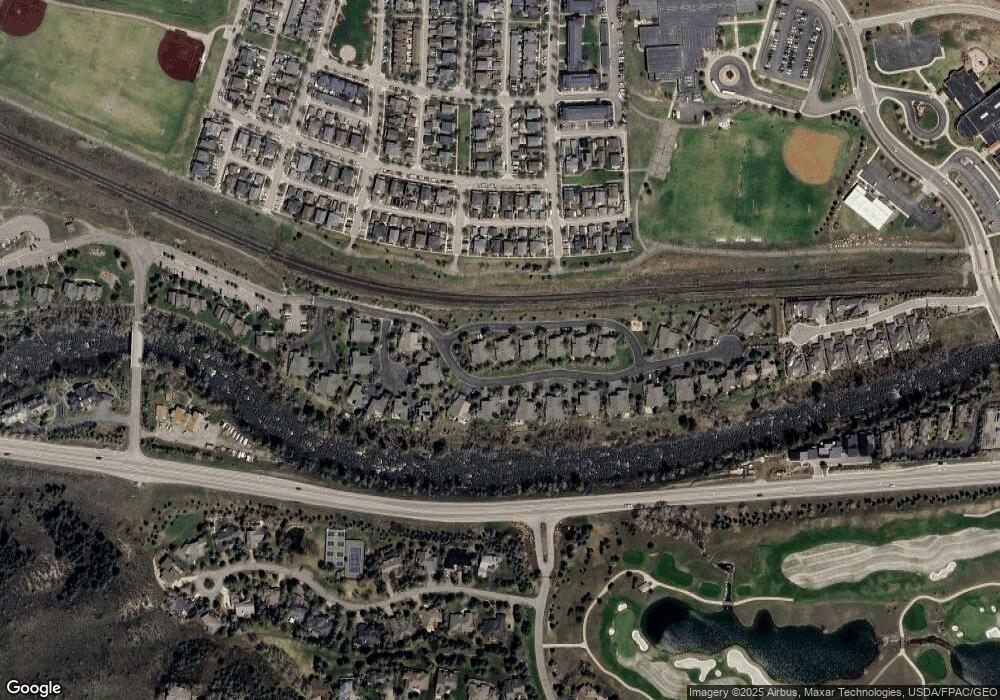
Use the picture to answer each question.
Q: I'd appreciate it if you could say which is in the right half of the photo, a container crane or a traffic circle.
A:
traffic circle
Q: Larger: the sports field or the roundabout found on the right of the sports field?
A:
the sports field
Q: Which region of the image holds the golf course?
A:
bottom right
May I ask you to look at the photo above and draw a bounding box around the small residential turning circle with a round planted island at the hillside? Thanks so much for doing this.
[194,567,224,597]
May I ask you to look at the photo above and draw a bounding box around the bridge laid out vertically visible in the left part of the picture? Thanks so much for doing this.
[131,326,144,370]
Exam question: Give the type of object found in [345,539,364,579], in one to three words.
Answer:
tennis court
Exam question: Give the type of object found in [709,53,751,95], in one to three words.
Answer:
roundabout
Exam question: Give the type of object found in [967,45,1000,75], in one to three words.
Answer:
playground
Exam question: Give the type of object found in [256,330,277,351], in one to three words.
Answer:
house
